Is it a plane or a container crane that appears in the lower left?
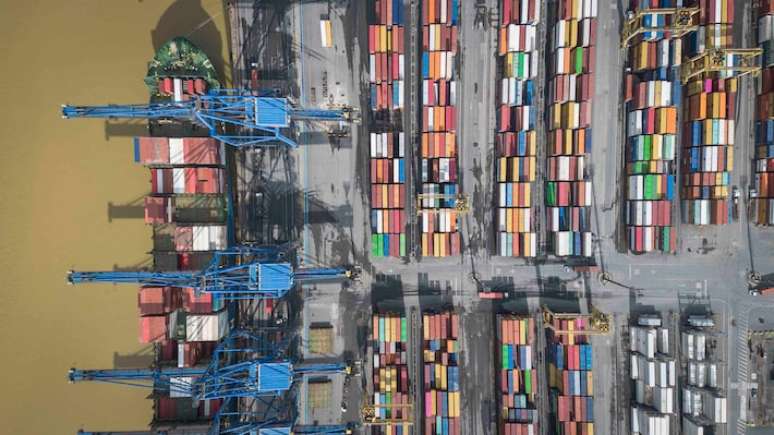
container crane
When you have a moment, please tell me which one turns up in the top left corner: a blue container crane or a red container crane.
blue container crane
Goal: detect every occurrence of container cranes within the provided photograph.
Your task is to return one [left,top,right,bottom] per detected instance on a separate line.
[66,324,357,397]
[361,384,414,424]
[541,301,610,335]
[415,190,471,214]
[681,47,763,82]
[621,9,700,47]
[62,239,356,300]
[57,86,354,149]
